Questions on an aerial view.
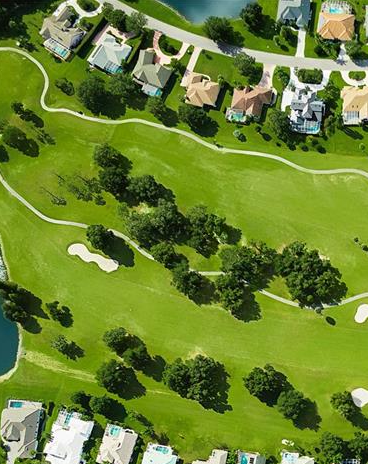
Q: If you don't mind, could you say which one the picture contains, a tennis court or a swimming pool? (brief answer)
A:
swimming pool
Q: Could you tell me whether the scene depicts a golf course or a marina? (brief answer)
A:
golf course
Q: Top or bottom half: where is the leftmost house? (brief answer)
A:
bottom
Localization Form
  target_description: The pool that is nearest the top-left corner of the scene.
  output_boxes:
[43,39,71,59]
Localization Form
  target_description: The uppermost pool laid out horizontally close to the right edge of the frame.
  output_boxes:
[321,0,352,15]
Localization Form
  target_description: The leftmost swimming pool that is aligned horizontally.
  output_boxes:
[7,398,42,410]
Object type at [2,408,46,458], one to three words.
house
